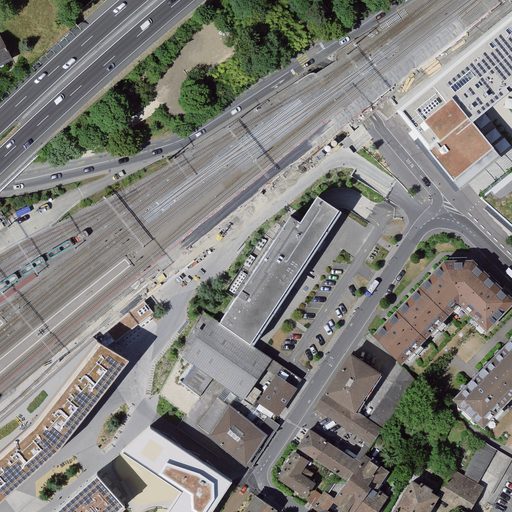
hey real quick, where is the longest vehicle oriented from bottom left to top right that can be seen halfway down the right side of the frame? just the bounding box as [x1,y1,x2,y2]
[366,278,382,296]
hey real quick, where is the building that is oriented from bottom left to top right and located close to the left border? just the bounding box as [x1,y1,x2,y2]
[0,339,132,498]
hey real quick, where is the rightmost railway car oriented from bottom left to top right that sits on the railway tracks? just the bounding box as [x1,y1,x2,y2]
[74,230,91,244]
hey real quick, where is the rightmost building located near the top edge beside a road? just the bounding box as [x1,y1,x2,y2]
[396,11,512,188]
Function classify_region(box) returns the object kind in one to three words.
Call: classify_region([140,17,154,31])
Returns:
vehicle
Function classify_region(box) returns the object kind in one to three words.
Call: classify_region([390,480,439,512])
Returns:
house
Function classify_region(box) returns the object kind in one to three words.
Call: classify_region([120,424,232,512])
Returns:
building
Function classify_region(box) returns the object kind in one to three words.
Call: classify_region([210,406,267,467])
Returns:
house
